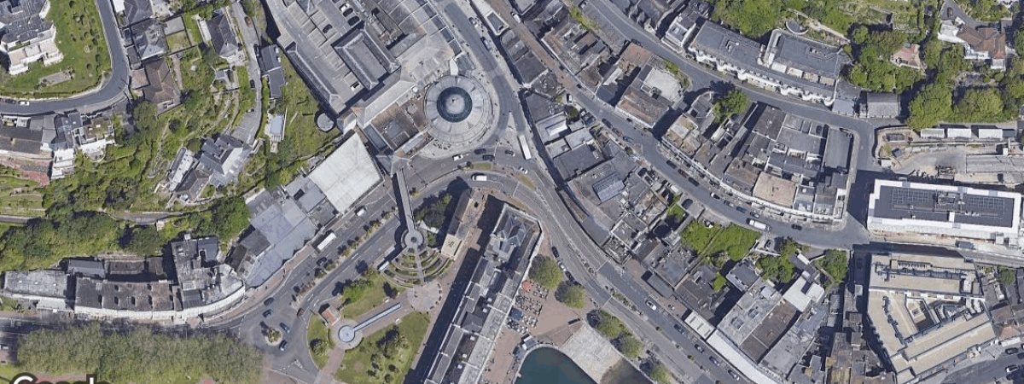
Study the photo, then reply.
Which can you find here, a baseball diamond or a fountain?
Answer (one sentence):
Looking from above, you can make out a fountain.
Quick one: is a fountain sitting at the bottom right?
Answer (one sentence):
No, I see no fountain at the bottom right.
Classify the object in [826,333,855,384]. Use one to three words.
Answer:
house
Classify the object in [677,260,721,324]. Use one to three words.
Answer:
building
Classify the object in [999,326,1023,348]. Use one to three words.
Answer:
house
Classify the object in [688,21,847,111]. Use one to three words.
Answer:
building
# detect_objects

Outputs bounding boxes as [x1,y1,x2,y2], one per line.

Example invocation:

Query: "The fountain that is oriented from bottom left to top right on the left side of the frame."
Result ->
[333,301,401,350]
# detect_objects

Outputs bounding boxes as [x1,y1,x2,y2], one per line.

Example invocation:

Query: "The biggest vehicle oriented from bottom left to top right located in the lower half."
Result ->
[318,233,335,249]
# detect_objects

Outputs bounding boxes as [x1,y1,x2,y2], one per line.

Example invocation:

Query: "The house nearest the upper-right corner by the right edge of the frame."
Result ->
[938,23,1005,68]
